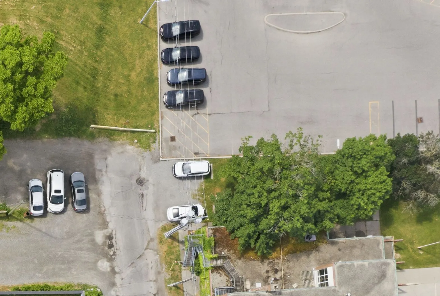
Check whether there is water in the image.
No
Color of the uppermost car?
black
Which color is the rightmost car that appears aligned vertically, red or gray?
gray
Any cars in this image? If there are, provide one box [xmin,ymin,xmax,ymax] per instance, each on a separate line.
[45,169,66,214]
[158,46,200,67]
[160,87,205,111]
[157,19,201,42]
[163,65,207,88]
[168,158,213,180]
[164,203,206,222]
[27,178,45,219]
[68,172,88,214]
